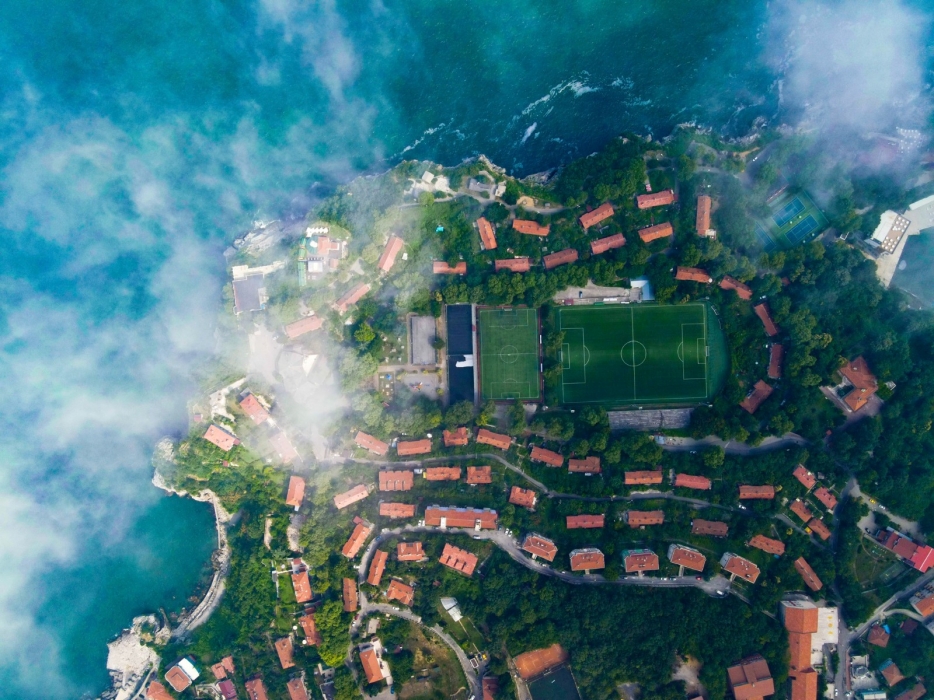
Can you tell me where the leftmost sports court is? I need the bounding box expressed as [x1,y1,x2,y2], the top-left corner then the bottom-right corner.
[407,314,436,366]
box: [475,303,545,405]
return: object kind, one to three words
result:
soccer field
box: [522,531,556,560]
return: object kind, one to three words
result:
building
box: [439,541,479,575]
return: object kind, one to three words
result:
house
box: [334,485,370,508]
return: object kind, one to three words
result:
house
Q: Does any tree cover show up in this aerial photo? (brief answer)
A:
Yes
